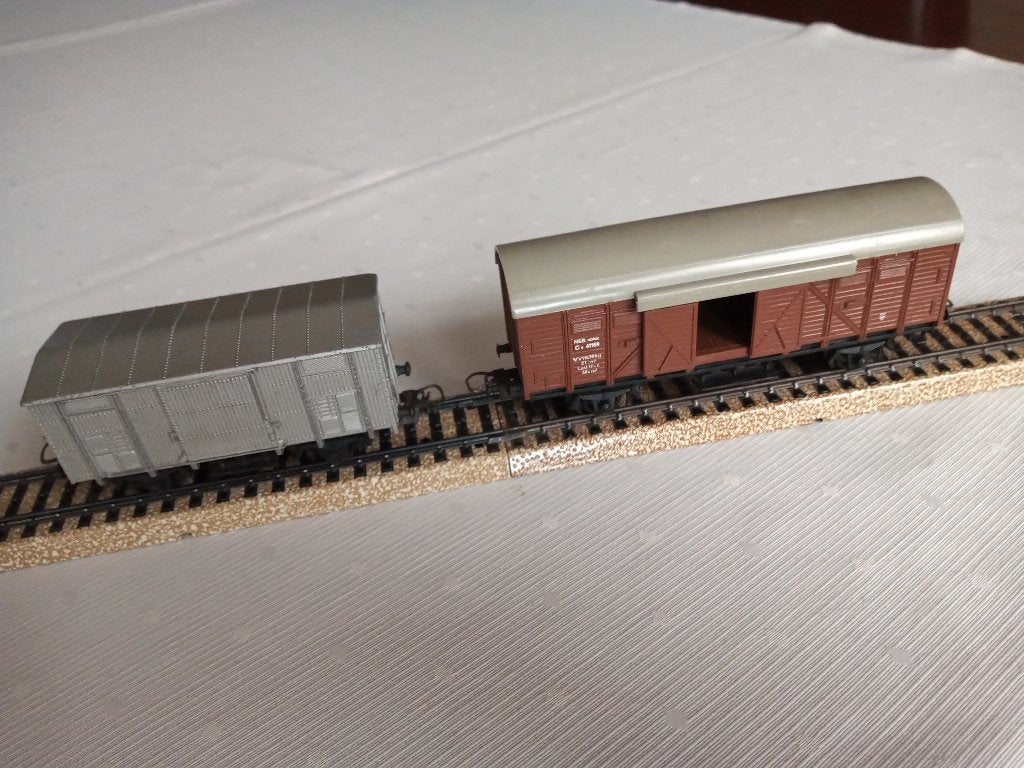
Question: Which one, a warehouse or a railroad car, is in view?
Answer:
railroad car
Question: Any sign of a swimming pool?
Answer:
No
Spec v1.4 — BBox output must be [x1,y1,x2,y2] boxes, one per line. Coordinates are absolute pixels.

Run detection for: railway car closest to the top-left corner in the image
[16,272,444,495]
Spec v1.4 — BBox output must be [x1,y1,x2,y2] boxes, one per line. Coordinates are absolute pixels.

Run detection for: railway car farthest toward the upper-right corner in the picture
[466,176,969,416]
